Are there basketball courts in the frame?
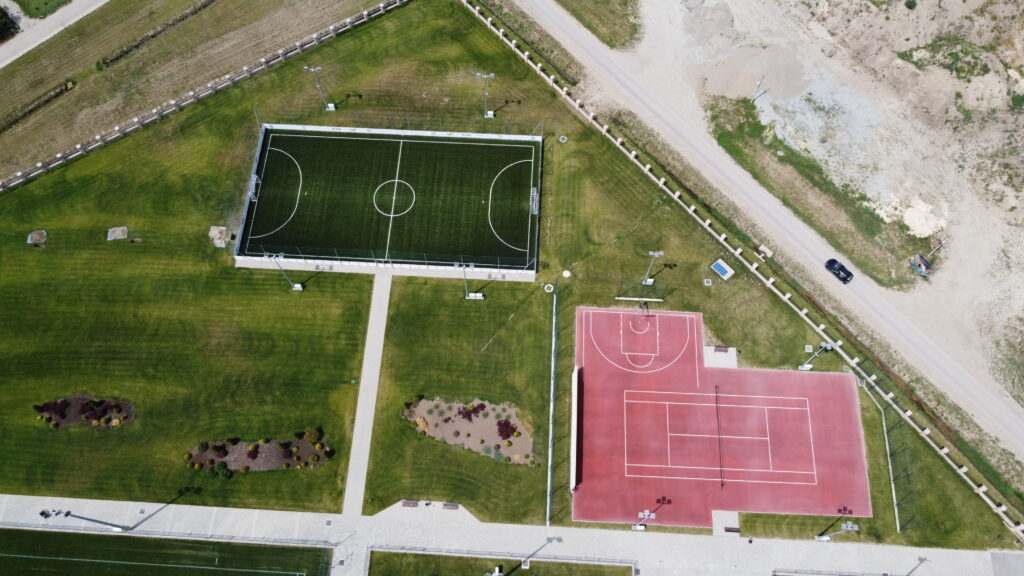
Yes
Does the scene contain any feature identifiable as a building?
No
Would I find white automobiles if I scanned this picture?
No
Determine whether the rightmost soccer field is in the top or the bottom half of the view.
top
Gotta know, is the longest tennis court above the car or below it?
below it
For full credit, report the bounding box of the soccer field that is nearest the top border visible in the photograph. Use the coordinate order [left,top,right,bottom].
[239,129,541,270]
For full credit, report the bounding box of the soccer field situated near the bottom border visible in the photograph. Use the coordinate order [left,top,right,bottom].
[0,530,320,576]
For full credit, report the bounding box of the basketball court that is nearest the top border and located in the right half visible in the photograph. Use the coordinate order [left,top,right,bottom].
[574,307,706,387]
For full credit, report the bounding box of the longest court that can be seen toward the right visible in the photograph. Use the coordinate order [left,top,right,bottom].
[571,361,873,528]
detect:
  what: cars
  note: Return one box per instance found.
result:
[825,259,855,285]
